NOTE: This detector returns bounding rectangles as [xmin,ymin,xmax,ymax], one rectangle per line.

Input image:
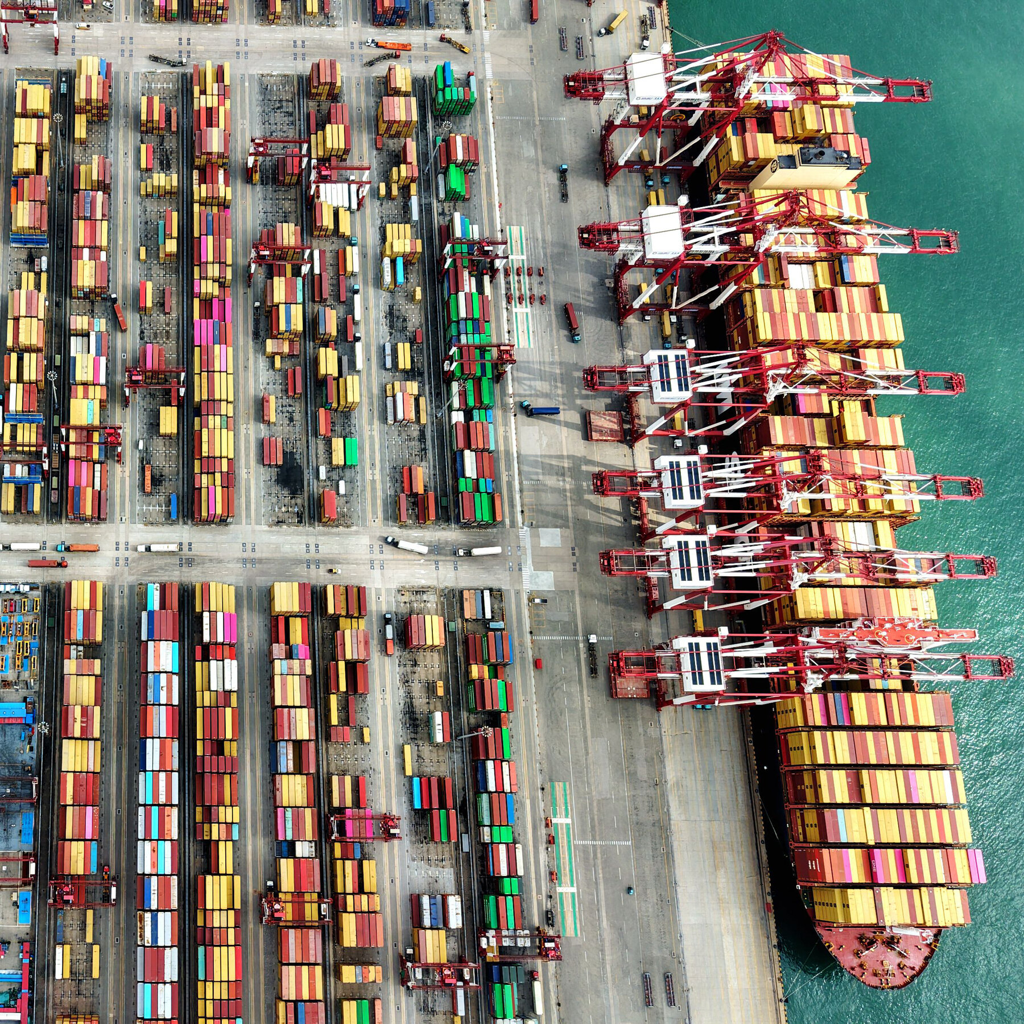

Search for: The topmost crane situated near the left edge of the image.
[1,5,60,59]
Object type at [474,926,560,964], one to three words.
container crane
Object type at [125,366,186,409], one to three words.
container crane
